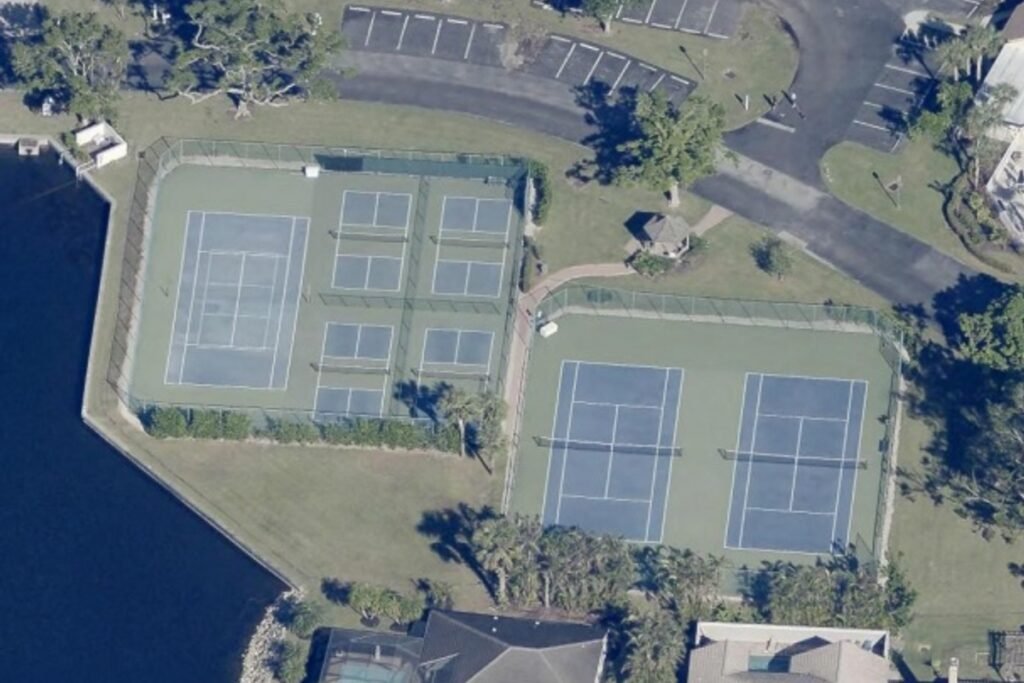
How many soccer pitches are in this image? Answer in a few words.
zero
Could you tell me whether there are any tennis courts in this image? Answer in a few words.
Yes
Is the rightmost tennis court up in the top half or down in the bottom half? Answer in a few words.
bottom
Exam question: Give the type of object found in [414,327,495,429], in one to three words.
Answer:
sports court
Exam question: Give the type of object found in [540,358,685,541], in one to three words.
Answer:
tennis court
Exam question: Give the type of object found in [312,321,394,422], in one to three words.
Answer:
sports court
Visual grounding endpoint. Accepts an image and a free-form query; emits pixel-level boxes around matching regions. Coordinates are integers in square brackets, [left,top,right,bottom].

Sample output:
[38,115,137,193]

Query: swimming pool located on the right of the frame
[750,656,789,674]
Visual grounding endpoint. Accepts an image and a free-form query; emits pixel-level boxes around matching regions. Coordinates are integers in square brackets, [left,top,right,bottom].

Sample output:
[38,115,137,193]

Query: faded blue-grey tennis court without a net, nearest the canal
[163,210,310,390]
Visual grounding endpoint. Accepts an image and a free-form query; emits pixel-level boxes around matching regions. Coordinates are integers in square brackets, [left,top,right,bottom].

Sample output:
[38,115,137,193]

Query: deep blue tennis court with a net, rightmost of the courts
[724,372,869,555]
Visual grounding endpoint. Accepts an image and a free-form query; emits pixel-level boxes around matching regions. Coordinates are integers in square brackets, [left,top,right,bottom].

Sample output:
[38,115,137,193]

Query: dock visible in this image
[19,137,40,153]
